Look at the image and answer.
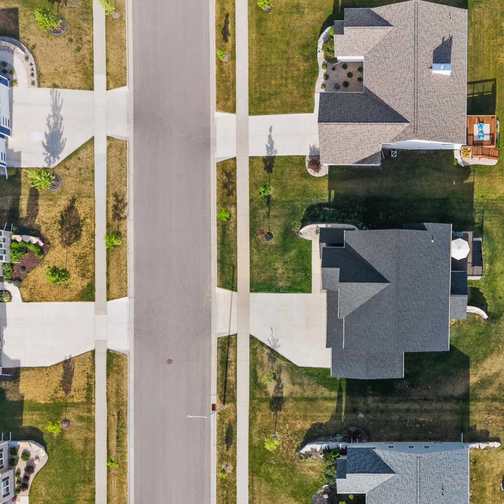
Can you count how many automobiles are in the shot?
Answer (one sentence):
There are no automobiles in the image.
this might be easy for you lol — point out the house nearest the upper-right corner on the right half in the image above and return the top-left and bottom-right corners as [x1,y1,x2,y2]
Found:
[318,0,469,172]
